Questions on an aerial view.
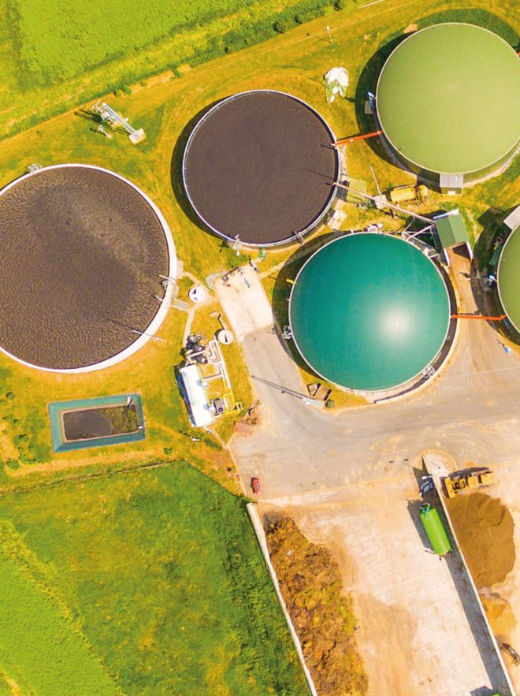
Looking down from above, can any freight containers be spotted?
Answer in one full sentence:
Yes, looking at the shot, I can spot a freight container.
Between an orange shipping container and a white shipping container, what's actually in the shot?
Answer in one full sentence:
I can see a white shipping container in this picture.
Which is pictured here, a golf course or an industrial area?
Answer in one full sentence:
It's an industrial area.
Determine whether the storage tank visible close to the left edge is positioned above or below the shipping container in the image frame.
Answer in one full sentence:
The storage tank visible close to the left edge is located above the shipping container in this view.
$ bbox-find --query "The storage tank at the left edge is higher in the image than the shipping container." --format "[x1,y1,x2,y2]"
[0,162,202,371]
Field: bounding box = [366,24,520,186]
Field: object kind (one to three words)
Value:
storage tank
